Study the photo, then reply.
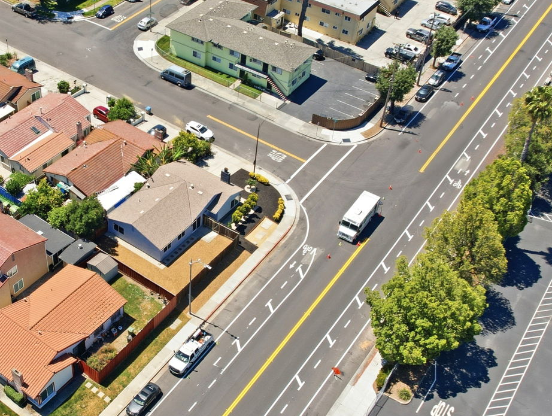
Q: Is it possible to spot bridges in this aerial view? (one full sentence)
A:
No, there is no bridge in the image.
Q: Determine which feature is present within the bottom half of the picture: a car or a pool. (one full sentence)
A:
Visible within the bottom half of the picture is a car.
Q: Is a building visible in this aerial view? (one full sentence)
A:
Yes, a building can be made out from above.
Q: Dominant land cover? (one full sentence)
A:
The largest share of the image is taken up by paved ground.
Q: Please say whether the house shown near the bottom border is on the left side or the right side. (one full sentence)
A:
The house shown near the bottom border is on the left side of the image.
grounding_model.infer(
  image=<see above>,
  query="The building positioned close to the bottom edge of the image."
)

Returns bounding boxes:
[0,264,127,408]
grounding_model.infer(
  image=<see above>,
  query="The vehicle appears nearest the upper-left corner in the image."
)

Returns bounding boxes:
[11,1,37,17]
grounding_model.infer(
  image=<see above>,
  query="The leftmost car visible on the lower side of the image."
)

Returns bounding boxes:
[123,379,164,416]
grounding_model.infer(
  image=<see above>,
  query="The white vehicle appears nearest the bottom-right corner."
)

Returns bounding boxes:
[340,186,384,237]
